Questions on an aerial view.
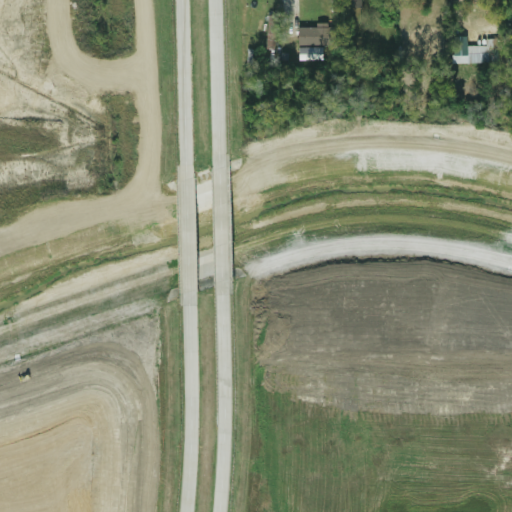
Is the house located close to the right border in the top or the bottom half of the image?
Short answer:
top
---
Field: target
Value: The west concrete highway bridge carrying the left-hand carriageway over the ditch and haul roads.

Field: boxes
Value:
[178,166,199,306]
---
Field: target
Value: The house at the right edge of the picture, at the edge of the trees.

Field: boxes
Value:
[453,36,498,64]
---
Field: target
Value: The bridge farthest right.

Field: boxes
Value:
[212,154,234,295]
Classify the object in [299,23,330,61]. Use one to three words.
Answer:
house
